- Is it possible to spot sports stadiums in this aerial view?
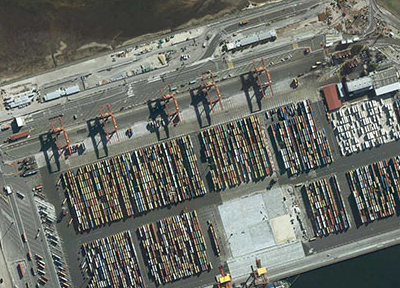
No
